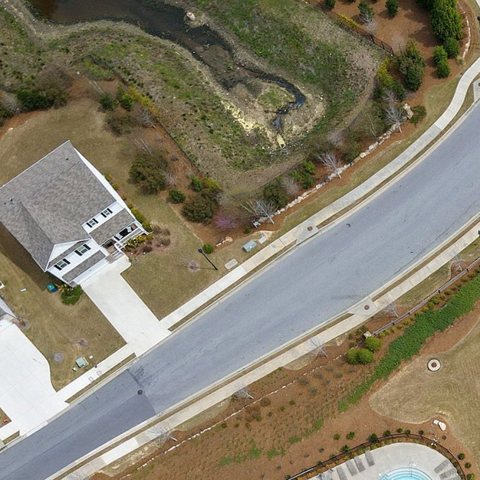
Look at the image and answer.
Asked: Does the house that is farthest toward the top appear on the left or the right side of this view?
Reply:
left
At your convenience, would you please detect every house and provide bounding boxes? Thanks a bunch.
[0,140,150,290]
[0,297,19,332]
